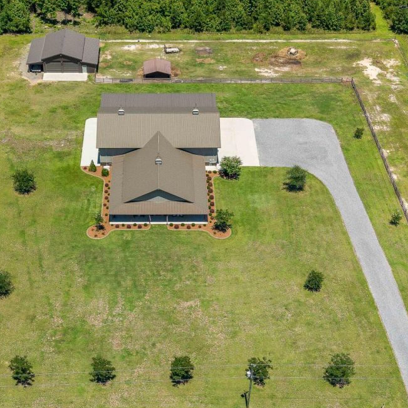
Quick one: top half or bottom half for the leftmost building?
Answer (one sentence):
It is in the top half that the leftmost building appears.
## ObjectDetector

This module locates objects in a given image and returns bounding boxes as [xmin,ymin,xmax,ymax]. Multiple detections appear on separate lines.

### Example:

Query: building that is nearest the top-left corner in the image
[27,28,100,73]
